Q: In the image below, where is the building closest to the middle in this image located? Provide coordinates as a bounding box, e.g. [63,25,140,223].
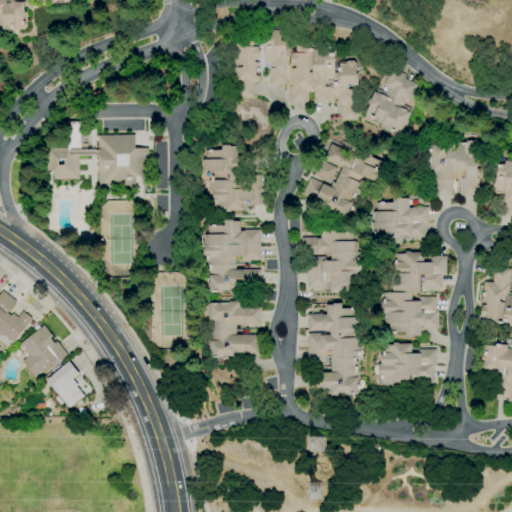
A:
[204,220,262,292]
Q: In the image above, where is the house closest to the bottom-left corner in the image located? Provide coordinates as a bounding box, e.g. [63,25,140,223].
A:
[50,365,82,406]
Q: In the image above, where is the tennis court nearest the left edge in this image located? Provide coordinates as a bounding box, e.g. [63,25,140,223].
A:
[104,200,134,276]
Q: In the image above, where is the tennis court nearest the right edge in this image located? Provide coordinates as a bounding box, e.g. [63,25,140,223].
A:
[154,272,186,347]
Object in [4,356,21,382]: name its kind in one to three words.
swimming pool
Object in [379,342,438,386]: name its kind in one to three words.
house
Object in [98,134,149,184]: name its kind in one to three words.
house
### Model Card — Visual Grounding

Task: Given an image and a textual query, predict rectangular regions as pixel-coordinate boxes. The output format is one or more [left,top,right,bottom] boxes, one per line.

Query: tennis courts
[104,200,134,276]
[154,272,186,347]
